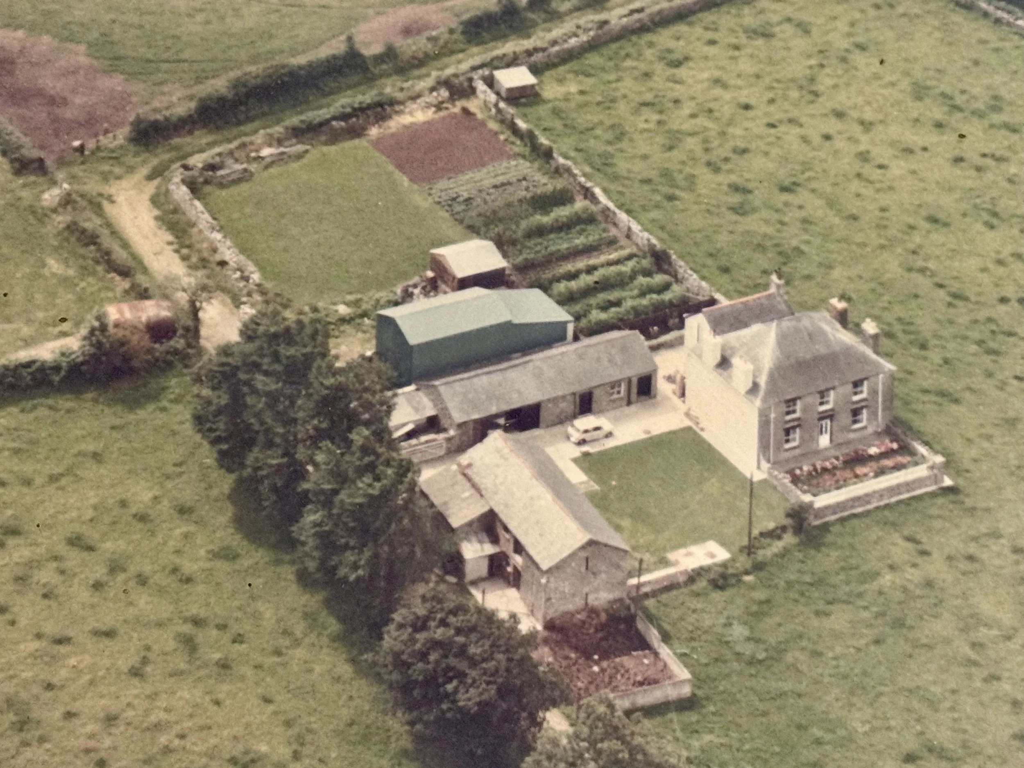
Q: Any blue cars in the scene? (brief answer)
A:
No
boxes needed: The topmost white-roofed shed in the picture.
[491,65,538,100]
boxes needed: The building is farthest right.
[673,269,900,468]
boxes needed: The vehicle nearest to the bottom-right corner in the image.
[564,414,616,445]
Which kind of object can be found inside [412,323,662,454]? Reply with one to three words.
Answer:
barn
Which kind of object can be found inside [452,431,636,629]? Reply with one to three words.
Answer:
barn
